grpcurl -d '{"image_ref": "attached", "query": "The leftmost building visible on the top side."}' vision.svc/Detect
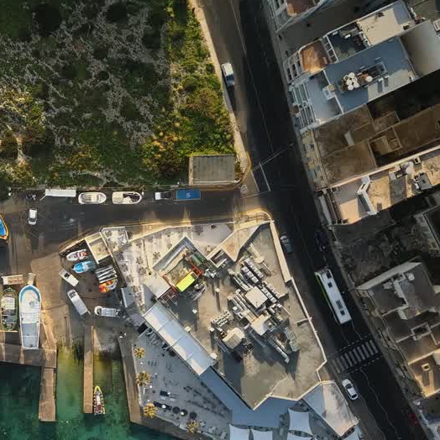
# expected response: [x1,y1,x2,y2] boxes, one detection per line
[188,154,236,184]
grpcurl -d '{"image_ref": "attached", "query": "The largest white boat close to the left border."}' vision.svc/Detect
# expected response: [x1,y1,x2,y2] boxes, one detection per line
[19,286,41,348]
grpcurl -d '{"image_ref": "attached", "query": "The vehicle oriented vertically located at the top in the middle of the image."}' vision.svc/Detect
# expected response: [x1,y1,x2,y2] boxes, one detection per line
[221,62,234,87]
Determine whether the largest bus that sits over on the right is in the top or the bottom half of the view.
bottom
